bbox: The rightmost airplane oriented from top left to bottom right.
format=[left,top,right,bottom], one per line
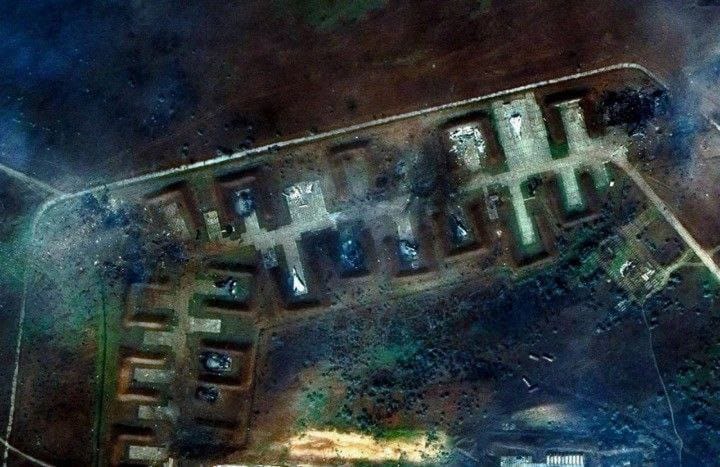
[453,215,472,241]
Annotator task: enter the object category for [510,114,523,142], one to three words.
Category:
airplane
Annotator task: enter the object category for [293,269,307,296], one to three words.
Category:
airplane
